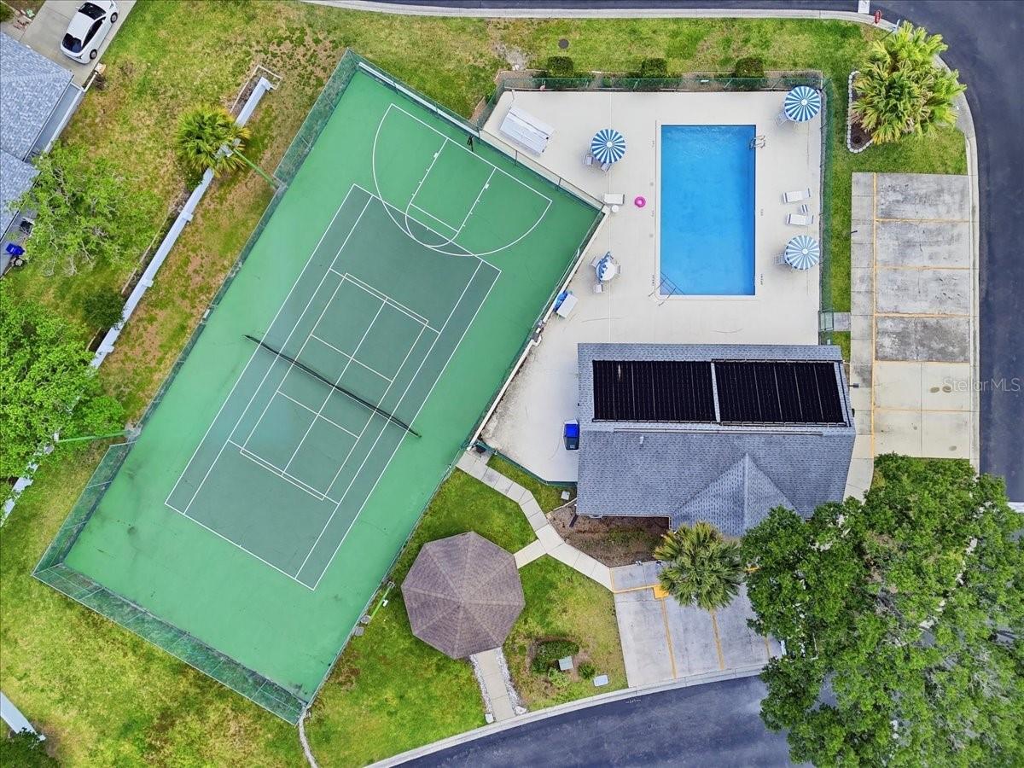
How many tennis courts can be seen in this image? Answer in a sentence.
Just 1 tennis court appears in this view.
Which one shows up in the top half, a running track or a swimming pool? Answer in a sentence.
It is a swimming pool that can be seen in the top half.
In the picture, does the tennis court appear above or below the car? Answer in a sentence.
It's below the car that the tennis court shows up.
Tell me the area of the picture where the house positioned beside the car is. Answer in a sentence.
Look in the top left portion of the view to spot the house positioned beside the car.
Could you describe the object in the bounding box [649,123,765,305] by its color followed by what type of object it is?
blue swimming pool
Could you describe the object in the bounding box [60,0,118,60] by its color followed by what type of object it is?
white car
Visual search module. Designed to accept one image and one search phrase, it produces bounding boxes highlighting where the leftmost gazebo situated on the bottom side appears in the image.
[401,531,527,657]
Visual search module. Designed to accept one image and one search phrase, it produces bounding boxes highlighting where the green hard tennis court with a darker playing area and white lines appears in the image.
[64,69,603,703]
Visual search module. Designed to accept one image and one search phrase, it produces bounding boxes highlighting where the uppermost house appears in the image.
[0,30,88,245]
